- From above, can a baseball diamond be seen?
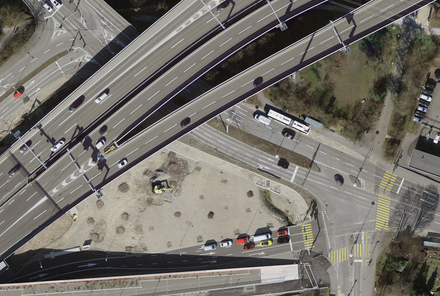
No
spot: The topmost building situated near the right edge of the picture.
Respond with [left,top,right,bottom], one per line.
[410,148,440,176]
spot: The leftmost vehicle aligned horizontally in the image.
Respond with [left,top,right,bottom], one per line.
[151,182,175,194]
